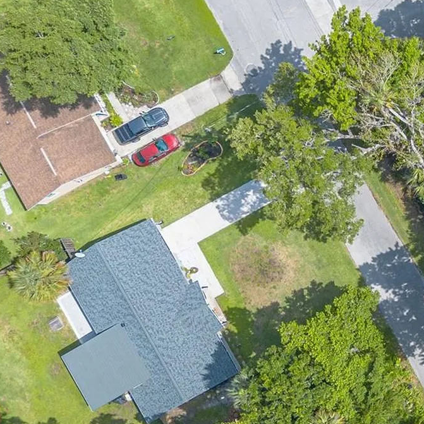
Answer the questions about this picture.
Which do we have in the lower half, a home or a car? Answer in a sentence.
What appears in the lower half is a home.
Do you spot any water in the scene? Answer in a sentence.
No, no water is visible.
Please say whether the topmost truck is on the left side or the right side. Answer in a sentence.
The topmost truck sits on the left side.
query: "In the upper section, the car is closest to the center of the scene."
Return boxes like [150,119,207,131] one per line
[129,131,187,171]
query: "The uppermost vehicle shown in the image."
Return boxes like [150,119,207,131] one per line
[107,102,175,150]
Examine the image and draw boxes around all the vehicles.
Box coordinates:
[107,102,175,150]
[129,131,187,171]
